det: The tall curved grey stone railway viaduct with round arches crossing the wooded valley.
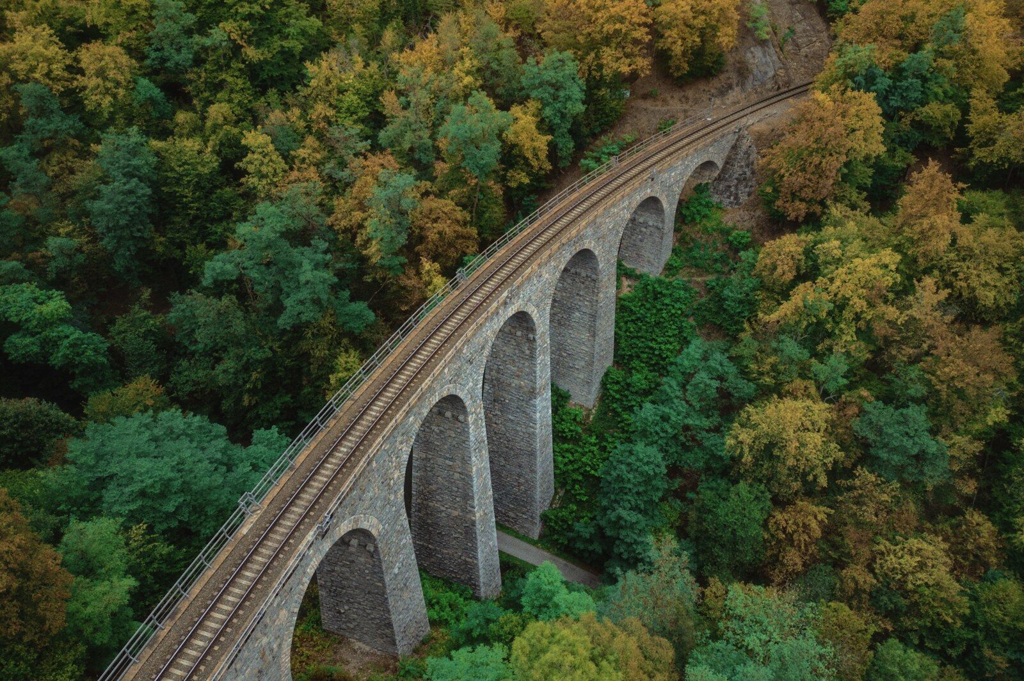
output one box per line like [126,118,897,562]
[120,113,750,681]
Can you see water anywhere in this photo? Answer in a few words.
No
